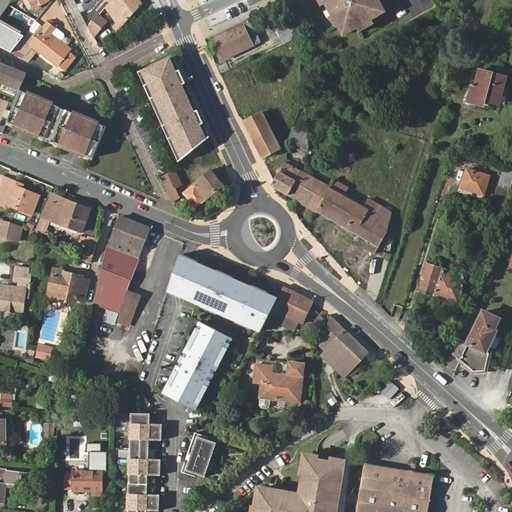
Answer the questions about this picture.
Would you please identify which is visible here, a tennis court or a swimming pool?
swimming pool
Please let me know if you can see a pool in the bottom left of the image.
Yes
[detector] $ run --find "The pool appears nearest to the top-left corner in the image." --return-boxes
[6,6,40,34]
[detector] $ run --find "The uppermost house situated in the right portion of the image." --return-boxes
[314,0,384,37]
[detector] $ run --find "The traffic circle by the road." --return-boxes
[228,198,296,268]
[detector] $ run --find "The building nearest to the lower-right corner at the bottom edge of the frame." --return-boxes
[356,462,435,512]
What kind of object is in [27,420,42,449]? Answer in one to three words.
swimming pool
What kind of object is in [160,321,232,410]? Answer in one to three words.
building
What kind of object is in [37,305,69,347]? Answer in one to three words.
swimming pool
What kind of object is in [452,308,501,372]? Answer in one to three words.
house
